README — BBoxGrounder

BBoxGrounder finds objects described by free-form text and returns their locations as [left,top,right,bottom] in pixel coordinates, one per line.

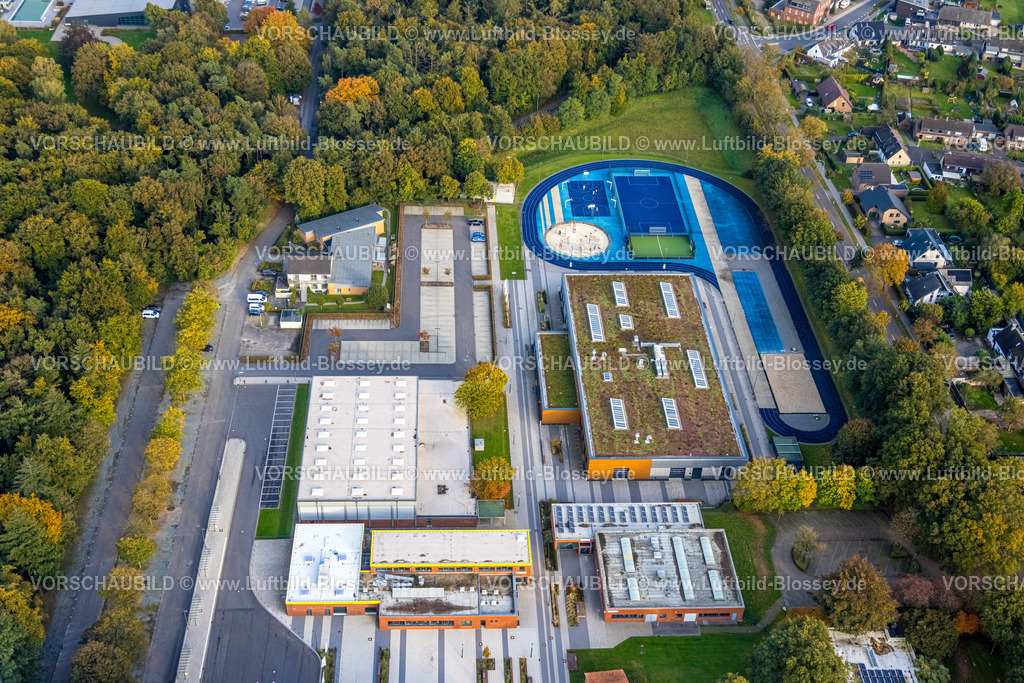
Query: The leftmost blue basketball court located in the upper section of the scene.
[568,181,611,216]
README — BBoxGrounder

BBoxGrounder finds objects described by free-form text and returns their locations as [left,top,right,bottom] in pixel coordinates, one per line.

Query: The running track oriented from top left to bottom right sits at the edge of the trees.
[521,159,849,440]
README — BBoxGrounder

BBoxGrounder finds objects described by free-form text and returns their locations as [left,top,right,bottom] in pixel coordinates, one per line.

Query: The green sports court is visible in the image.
[631,236,694,258]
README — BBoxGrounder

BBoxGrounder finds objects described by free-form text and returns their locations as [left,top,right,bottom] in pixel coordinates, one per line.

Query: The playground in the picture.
[544,221,611,258]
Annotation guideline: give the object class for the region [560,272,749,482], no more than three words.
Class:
building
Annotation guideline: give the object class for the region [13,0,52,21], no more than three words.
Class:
swimming pool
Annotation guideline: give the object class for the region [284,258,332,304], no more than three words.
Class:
house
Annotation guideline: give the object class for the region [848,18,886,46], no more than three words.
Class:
house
